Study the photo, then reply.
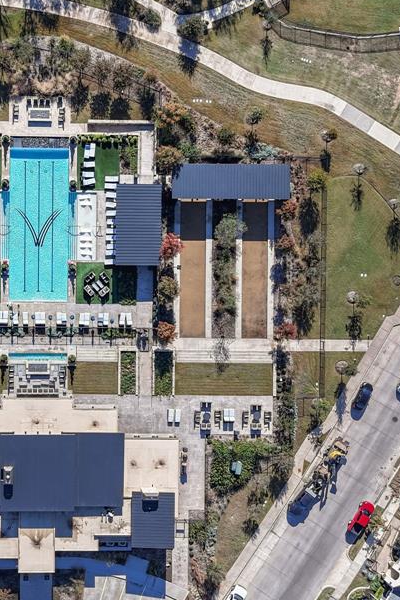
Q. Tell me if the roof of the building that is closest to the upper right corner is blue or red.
blue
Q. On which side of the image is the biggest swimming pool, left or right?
left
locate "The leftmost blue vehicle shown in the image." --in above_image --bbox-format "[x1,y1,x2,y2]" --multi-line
[290,486,321,527]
